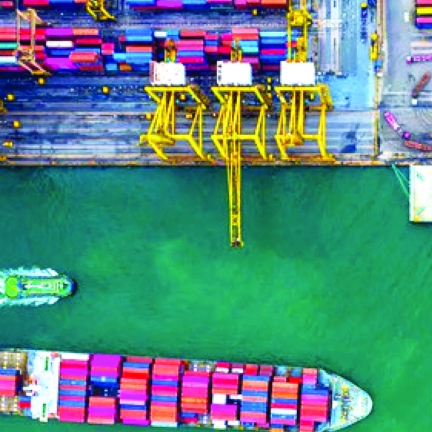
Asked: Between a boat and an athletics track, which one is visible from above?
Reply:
boat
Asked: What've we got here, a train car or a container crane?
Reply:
container crane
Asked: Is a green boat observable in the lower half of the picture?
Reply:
Yes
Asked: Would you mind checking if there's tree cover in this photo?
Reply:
No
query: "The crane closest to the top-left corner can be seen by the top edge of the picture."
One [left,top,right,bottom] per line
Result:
[16,4,51,74]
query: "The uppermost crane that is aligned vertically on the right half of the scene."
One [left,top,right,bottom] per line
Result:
[288,0,306,62]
